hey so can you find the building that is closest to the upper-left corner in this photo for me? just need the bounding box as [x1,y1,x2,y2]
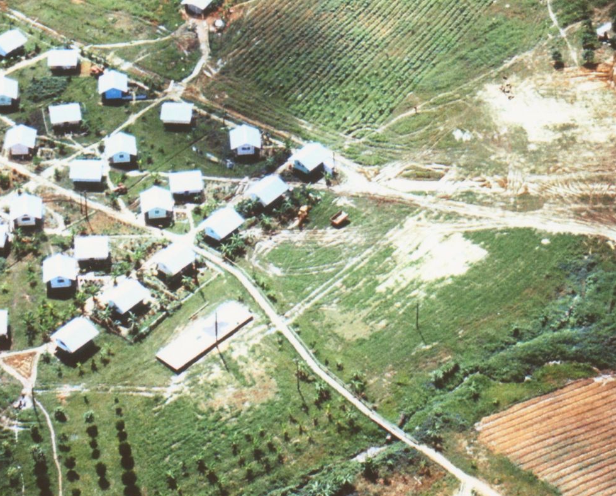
[0,31,28,66]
